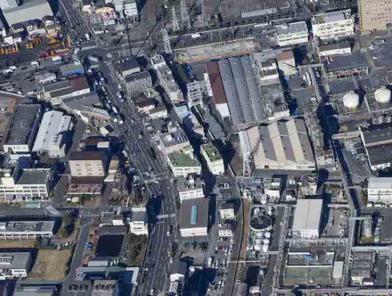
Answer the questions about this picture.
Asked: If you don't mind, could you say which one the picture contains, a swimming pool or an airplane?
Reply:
swimming pool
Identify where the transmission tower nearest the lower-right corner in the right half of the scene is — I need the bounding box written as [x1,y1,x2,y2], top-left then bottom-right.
[234,131,254,180]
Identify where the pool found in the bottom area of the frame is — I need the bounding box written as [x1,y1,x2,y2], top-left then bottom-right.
[94,232,126,257]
